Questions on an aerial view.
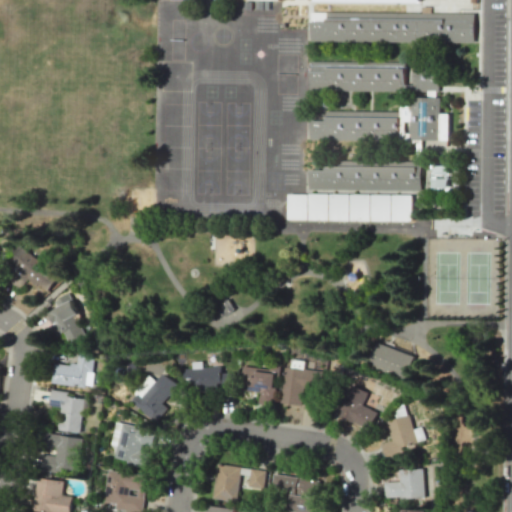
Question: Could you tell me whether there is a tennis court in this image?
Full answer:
Yes, I can see a tennis court in this picture.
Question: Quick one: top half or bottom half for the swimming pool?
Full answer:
The swimming pool sits in the bottom half of the picture.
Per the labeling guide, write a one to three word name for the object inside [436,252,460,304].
tennis court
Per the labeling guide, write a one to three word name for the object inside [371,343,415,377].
building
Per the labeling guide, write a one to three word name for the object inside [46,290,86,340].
house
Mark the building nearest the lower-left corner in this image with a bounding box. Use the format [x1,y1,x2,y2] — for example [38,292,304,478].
[34,476,74,512]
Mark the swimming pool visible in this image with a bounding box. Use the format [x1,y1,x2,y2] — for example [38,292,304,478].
[64,477,88,500]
